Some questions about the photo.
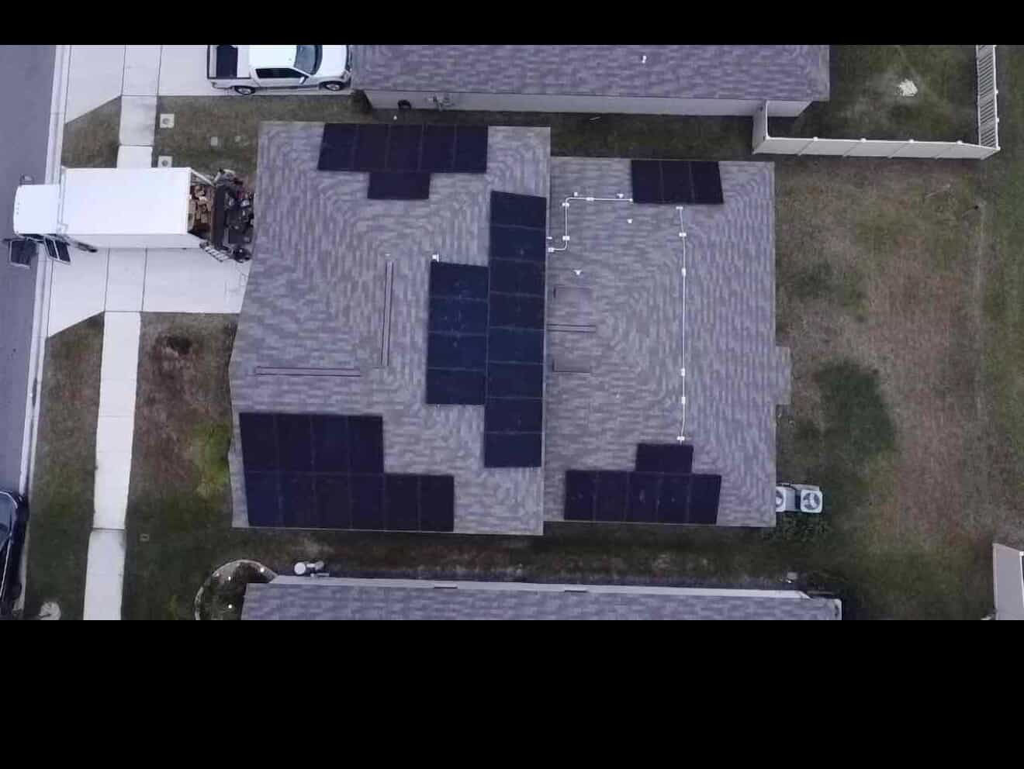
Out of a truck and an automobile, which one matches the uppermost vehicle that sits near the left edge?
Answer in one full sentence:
Looking closely, the uppermost vehicle that sits near the left edge is a truck.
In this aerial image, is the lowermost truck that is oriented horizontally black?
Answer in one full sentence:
No, the color of the lowermost truck that is oriented horizontally is white.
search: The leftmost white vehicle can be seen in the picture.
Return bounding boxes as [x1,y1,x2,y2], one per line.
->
[3,165,235,270]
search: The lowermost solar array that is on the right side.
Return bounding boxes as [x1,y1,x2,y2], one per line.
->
[564,444,721,525]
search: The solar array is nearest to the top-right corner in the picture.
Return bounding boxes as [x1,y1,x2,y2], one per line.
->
[631,159,723,204]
